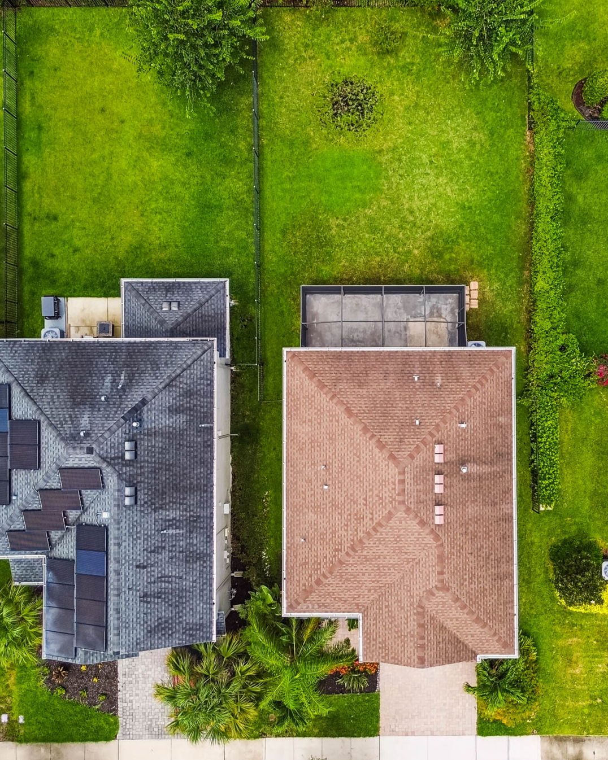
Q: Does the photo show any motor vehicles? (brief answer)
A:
No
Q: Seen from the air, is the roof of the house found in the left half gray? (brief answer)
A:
Yes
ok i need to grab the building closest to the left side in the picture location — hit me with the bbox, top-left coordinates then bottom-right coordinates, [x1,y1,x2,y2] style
[0,276,243,666]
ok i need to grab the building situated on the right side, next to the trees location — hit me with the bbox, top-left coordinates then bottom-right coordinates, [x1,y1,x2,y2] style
[280,287,520,672]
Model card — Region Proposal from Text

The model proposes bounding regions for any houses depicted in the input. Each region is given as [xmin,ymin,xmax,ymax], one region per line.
[280,287,520,672]
[0,276,243,666]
